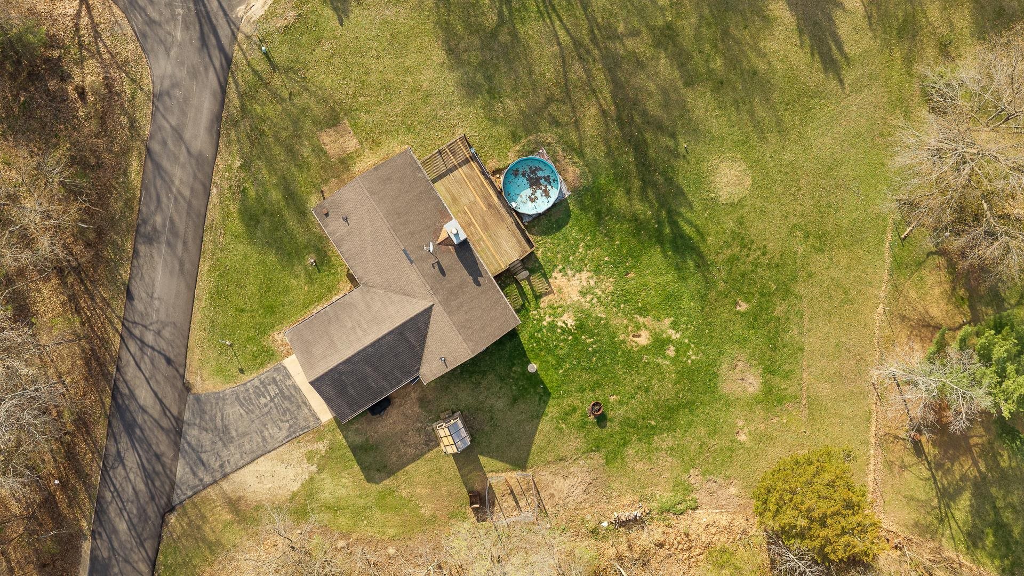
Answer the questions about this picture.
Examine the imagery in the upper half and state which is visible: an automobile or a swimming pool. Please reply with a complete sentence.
Visible in the upper half is a swimming pool.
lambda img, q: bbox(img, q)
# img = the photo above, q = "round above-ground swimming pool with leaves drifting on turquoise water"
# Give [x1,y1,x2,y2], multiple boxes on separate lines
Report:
[502,155,563,217]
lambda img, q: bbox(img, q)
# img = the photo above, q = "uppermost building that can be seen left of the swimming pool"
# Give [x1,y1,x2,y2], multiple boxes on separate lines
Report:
[285,149,520,424]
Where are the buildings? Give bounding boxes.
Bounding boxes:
[285,149,520,424]
[435,408,476,454]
